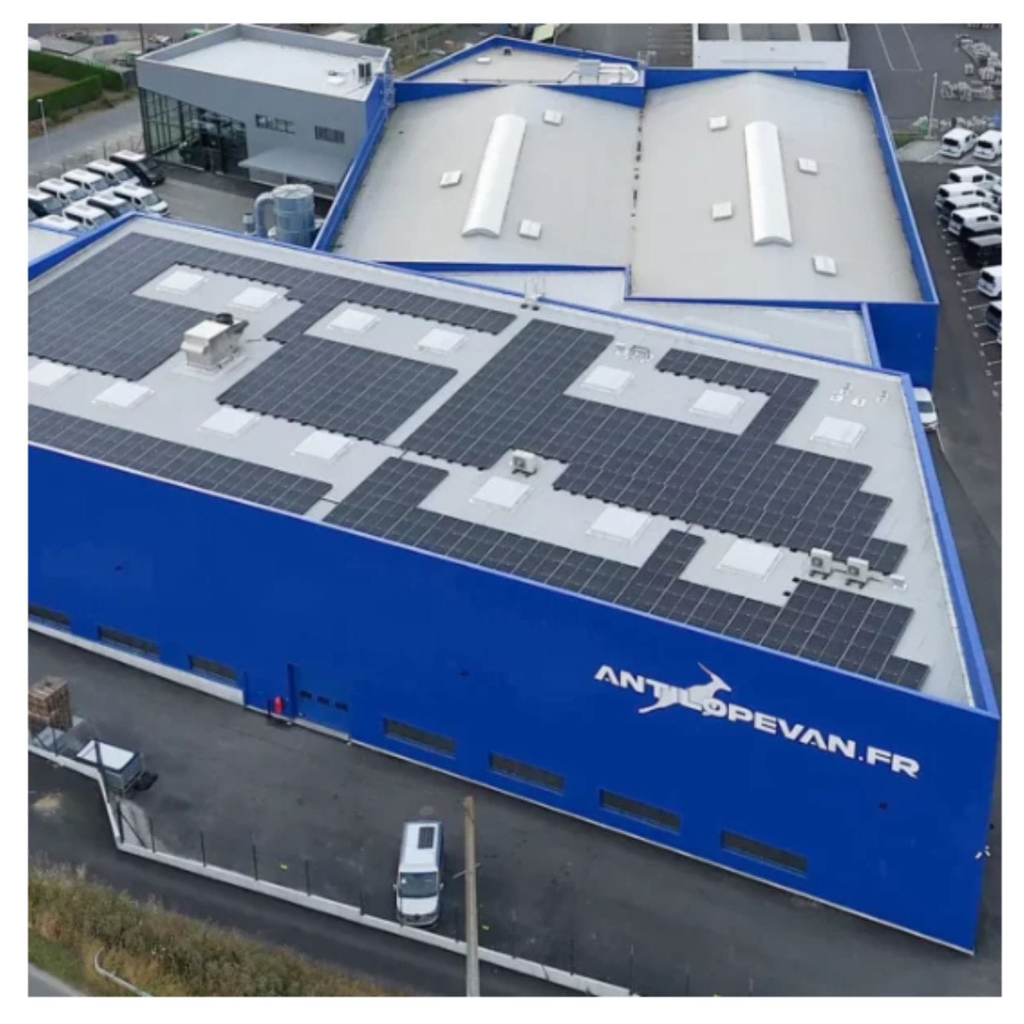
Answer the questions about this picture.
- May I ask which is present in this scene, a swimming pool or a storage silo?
storage silo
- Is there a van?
Yes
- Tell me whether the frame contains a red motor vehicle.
No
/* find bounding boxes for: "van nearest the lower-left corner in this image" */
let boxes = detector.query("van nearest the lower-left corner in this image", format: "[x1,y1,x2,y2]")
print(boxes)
[392,819,445,924]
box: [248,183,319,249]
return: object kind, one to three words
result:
silo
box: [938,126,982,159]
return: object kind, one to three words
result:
van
